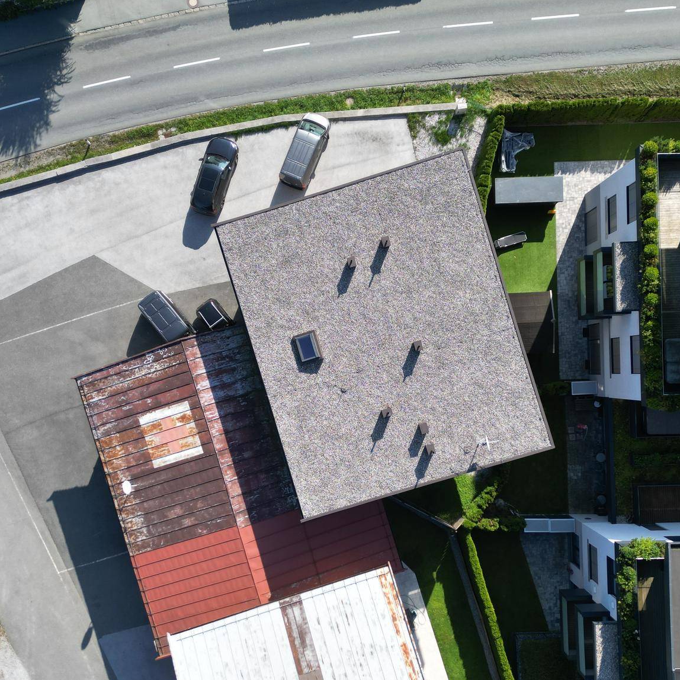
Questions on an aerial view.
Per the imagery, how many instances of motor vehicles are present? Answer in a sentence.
I count 4 motor vehicles.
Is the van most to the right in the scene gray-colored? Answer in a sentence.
Yes, the van most to the right is indeed gray.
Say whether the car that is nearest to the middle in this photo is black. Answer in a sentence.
Yes, black is the color of the car that is nearest to the middle.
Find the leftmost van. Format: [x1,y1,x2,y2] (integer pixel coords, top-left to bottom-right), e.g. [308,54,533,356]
[139,290,201,346]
